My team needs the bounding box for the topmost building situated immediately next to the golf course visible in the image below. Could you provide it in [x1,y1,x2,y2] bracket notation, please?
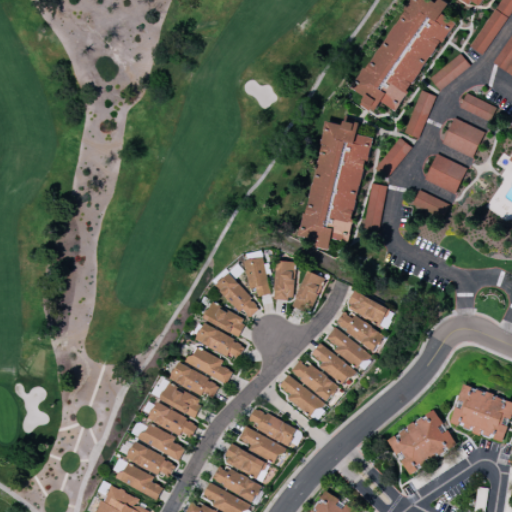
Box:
[352,0,455,112]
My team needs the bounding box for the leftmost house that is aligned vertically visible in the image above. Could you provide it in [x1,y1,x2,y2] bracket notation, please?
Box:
[245,250,272,298]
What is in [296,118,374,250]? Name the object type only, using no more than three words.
building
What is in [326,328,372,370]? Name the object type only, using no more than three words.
house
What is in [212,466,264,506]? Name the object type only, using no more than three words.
house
